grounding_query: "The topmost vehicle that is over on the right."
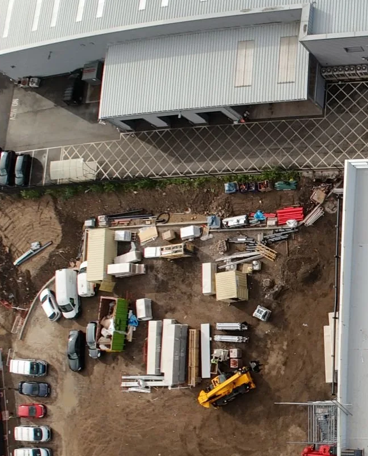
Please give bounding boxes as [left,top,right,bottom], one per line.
[195,359,269,407]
